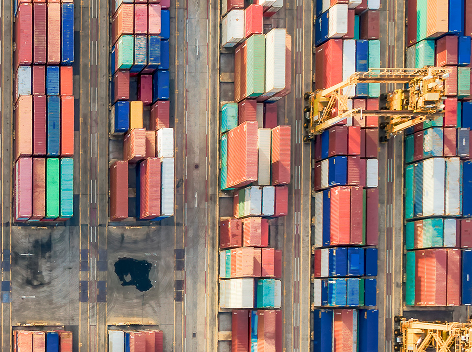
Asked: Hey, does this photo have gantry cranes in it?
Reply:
Yes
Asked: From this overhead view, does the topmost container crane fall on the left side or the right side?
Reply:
right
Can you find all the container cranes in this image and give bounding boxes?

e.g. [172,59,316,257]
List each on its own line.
[394,316,472,352]
[303,76,444,142]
